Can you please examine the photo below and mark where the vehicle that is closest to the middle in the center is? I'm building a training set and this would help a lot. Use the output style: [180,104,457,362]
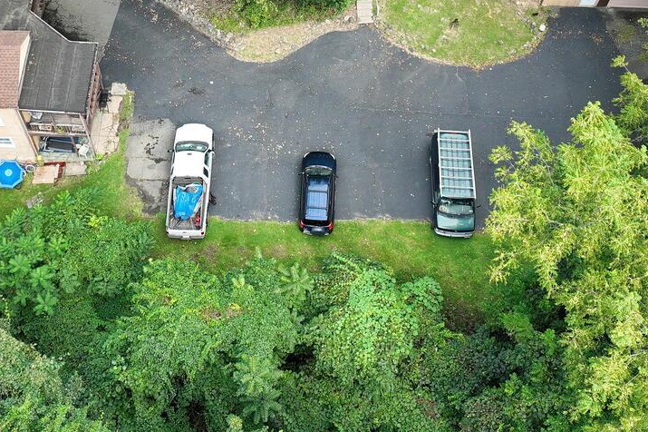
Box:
[298,154,342,234]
